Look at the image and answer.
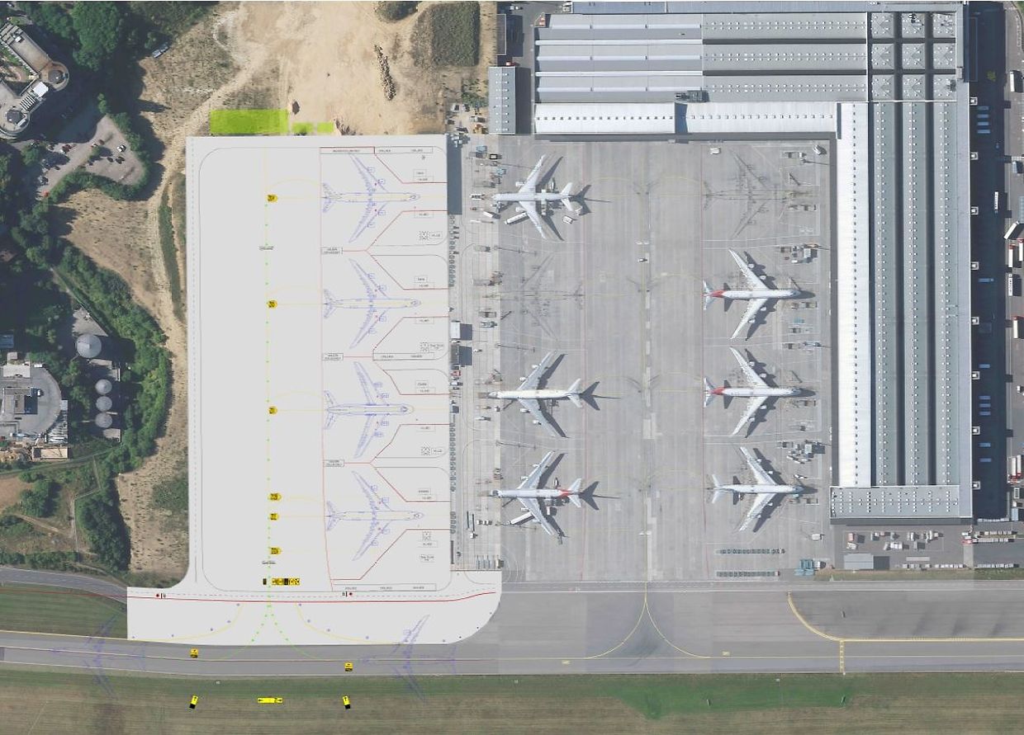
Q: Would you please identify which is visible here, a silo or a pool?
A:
silo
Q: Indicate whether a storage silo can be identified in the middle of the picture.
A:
No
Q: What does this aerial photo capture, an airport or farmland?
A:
airport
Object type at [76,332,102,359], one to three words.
silo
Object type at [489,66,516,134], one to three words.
building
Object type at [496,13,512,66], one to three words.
shed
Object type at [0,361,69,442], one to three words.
building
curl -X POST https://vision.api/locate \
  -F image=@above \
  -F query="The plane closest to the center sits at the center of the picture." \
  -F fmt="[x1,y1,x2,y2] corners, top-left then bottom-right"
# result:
[489,351,582,437]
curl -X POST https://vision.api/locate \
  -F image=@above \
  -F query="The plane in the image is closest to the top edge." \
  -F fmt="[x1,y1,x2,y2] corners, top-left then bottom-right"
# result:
[493,155,574,238]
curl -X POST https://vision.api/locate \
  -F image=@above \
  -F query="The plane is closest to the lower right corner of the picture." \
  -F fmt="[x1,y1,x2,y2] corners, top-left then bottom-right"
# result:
[712,447,804,532]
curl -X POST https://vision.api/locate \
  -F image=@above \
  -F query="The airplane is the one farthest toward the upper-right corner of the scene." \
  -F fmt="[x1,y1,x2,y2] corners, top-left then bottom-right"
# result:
[704,250,801,339]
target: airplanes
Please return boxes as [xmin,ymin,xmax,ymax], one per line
[705,347,802,437]
[704,250,801,339]
[491,452,584,538]
[489,351,582,437]
[712,447,804,532]
[493,155,574,238]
